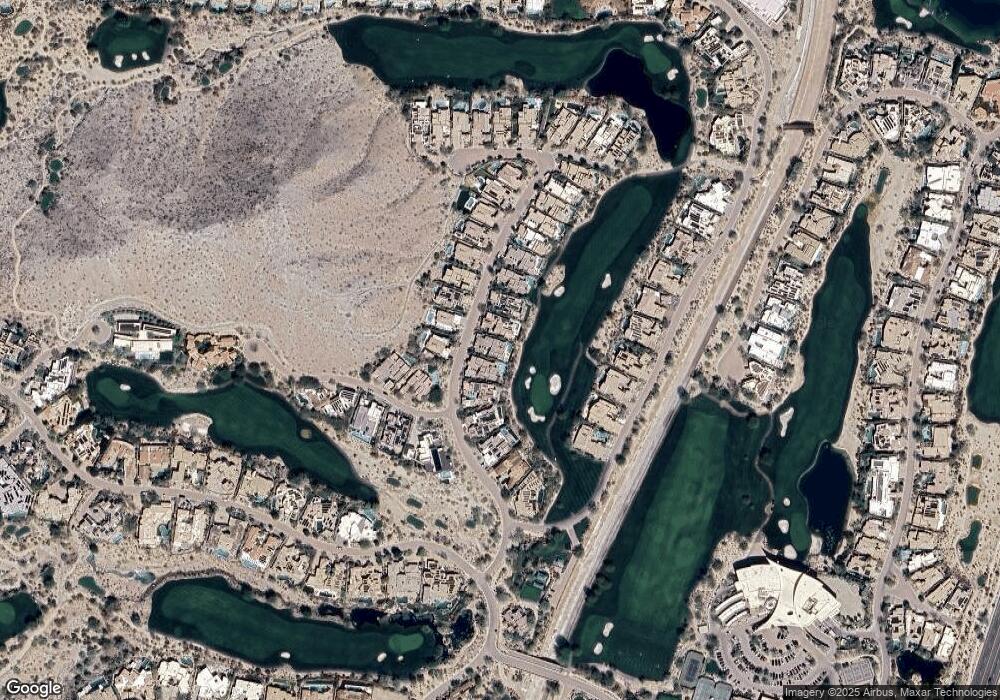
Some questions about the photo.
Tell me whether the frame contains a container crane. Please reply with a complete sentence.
No, there isn't any container crane down there.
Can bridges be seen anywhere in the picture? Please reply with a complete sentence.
Yes, I can see a bridge in this picture.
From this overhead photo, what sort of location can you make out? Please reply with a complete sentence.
This image shows a residential area.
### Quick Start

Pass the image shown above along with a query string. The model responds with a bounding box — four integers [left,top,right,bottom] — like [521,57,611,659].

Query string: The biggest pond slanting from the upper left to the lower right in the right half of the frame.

[587,48,690,162]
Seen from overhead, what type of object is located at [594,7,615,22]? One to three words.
swimming pool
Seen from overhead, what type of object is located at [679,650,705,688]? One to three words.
tennis court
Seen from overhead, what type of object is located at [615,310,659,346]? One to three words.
house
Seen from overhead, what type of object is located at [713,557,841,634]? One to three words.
building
